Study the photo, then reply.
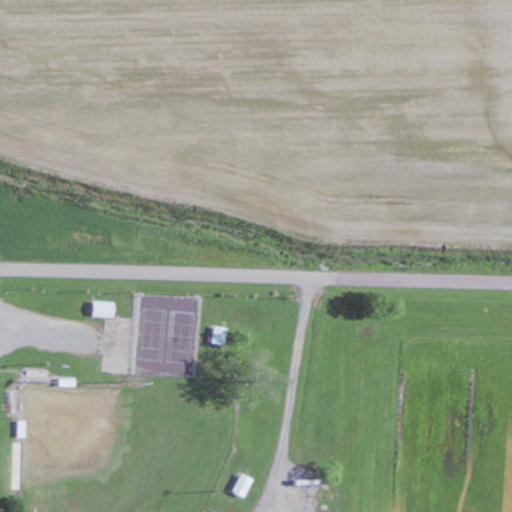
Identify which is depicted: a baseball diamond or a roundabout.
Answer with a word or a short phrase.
baseball diamond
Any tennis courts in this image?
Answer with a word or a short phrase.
Yes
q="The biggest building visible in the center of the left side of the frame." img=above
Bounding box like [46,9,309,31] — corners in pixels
[92,300,116,319]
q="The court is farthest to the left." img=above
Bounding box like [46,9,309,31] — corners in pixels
[136,296,168,376]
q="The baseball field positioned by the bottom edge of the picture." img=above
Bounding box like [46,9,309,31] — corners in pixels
[12,376,144,504]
